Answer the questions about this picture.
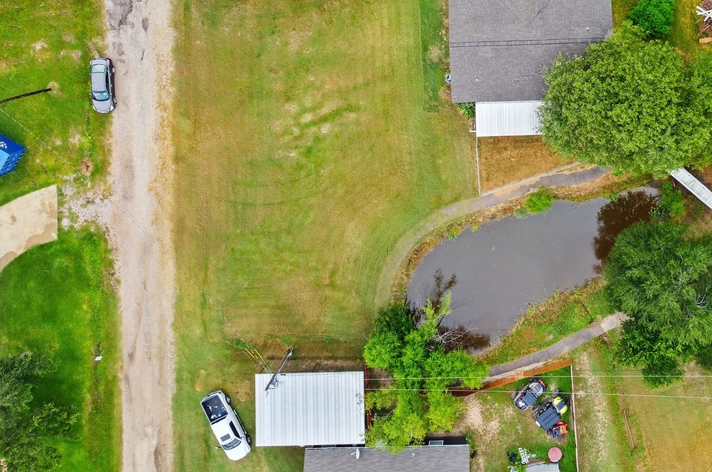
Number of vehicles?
four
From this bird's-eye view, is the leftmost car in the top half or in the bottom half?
top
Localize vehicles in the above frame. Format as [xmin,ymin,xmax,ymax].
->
[199,393,252,463]
[88,57,118,113]
[534,394,569,430]
[513,378,546,413]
